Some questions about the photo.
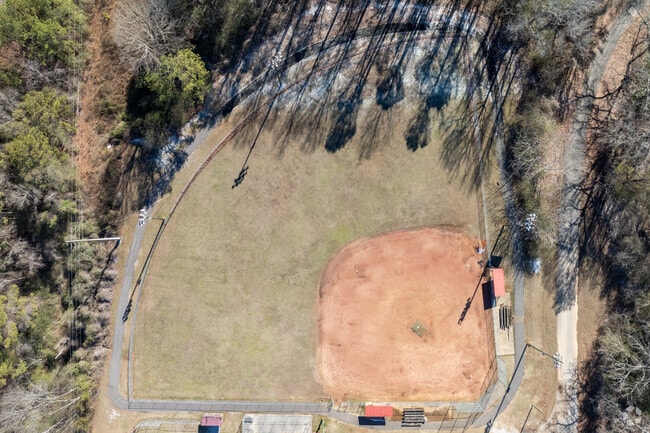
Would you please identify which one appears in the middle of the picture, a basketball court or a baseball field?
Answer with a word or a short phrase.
baseball field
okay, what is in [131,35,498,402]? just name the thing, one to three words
baseball field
